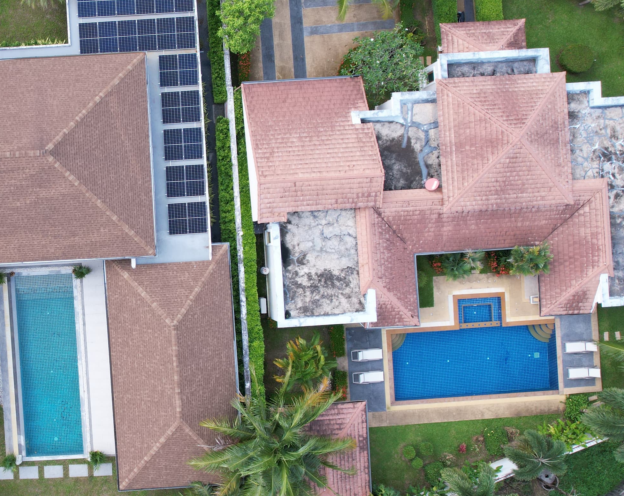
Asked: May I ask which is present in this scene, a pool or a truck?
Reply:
pool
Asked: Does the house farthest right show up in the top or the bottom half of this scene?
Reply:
top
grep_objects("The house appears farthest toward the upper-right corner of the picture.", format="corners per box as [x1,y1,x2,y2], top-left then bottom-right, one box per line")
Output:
[238,17,624,329]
